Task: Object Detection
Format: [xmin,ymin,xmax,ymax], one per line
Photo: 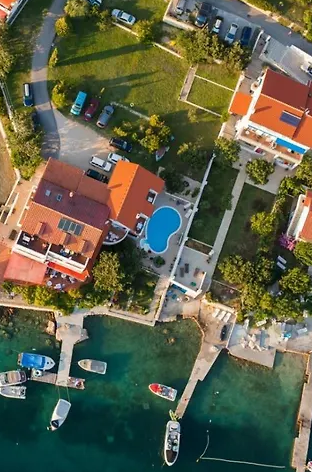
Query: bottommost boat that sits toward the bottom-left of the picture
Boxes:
[47,399,70,434]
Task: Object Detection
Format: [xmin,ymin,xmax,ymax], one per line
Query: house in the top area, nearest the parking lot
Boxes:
[229,68,312,172]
